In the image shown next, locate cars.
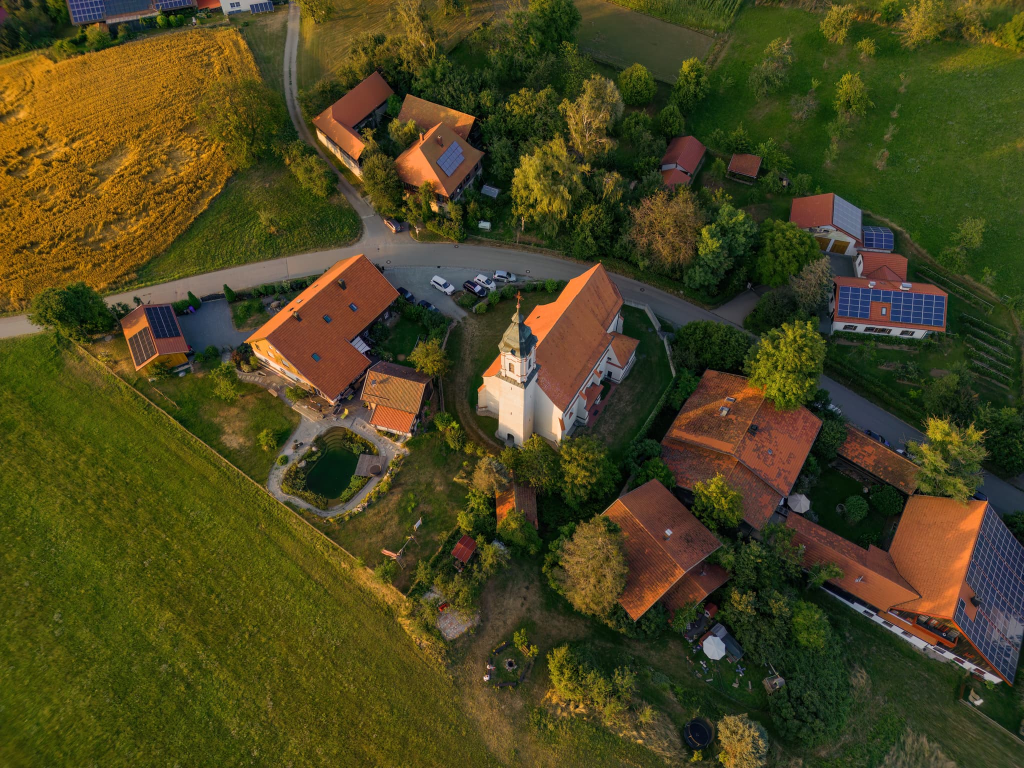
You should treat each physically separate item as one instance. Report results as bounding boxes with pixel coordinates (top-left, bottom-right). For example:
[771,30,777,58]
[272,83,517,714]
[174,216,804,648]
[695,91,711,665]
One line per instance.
[415,295,443,315]
[426,276,454,298]
[828,394,852,420]
[473,273,498,292]
[491,269,517,283]
[392,283,417,305]
[460,279,488,298]
[185,337,198,359]
[964,482,1003,513]
[382,214,404,232]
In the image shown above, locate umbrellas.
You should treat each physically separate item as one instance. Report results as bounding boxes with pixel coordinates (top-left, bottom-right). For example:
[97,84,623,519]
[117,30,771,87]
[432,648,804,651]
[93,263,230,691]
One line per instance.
[702,637,724,660]
[787,495,809,515]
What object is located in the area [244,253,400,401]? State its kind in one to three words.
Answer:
house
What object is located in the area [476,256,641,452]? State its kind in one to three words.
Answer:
church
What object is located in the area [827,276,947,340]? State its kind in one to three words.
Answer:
house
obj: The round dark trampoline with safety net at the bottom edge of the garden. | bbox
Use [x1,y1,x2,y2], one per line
[684,714,718,753]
